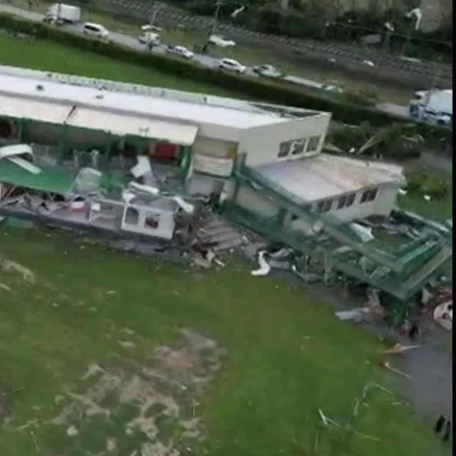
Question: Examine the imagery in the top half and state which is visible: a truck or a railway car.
truck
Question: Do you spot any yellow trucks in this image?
No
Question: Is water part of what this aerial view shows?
No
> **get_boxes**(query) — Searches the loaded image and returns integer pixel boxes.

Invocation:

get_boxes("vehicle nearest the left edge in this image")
[44,3,82,27]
